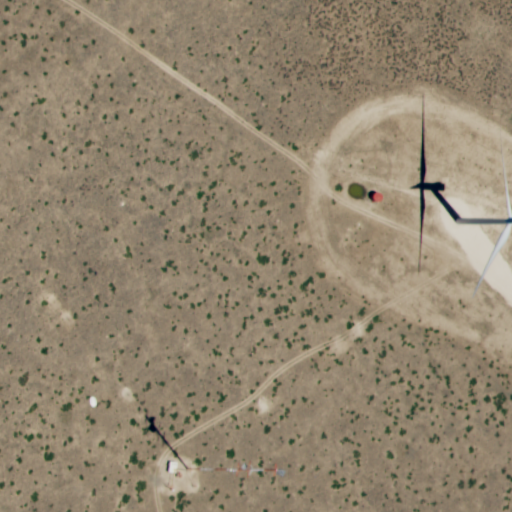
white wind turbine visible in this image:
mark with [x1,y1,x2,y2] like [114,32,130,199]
[454,214,512,292]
